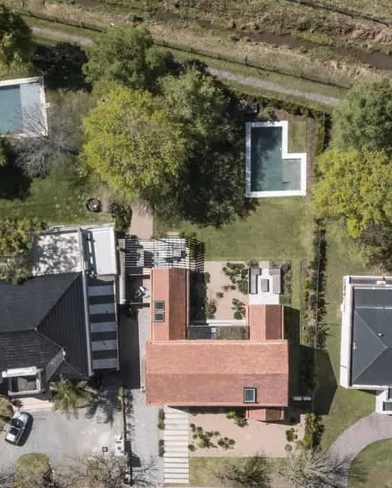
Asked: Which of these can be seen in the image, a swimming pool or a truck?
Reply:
swimming pool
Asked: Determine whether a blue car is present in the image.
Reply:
No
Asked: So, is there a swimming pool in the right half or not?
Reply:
Yes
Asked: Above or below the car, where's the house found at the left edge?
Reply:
above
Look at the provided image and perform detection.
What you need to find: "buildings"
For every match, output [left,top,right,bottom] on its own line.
[339,277,392,414]
[146,268,289,419]
[0,226,124,396]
